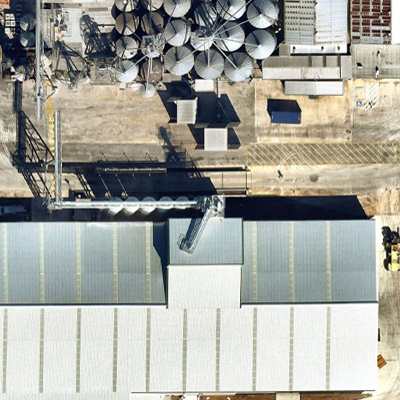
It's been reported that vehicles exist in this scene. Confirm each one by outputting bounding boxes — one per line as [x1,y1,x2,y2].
[387,230,400,272]
[0,206,25,216]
